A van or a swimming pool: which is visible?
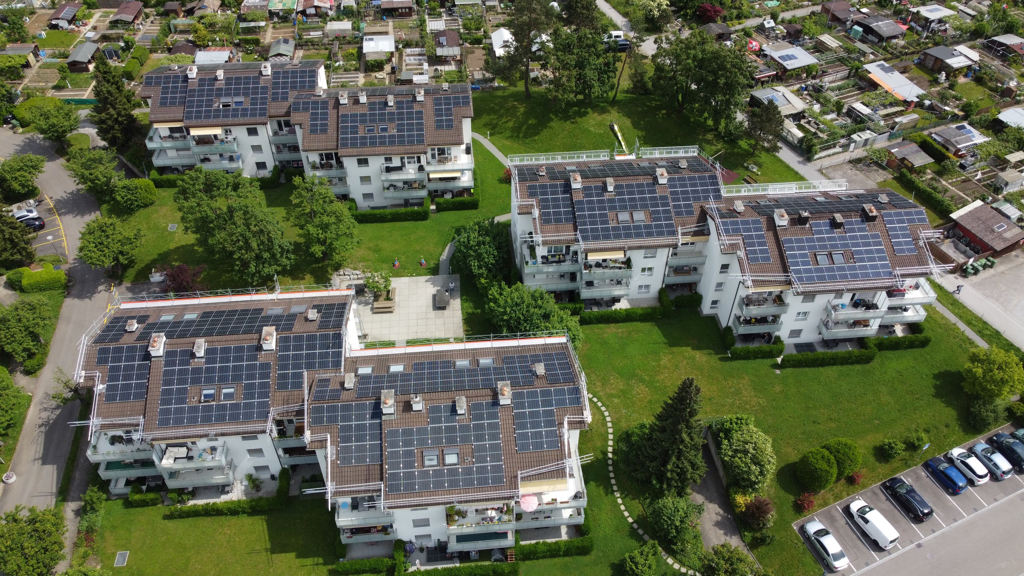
van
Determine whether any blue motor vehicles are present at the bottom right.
Yes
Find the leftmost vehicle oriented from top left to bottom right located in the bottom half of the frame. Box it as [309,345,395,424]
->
[804,521,851,573]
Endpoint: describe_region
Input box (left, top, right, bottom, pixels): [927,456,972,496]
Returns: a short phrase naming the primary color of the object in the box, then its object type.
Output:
blue car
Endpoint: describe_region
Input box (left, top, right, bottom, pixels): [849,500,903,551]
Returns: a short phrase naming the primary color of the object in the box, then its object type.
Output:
white van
